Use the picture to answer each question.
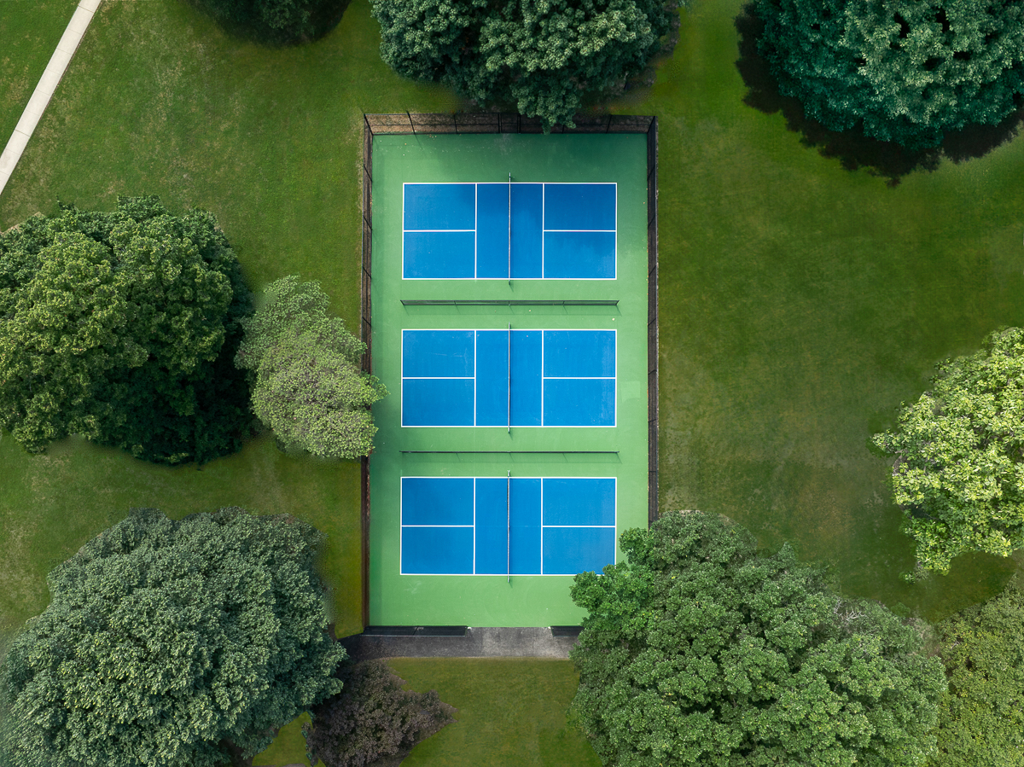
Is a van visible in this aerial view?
No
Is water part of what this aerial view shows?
No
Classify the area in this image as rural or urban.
rural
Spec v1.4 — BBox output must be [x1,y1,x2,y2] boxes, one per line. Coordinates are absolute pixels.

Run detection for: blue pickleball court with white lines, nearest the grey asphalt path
[401,477,616,575]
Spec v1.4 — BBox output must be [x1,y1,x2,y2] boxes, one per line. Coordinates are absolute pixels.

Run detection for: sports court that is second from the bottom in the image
[401,329,616,427]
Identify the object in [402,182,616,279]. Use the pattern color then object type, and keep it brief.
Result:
blue sports court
